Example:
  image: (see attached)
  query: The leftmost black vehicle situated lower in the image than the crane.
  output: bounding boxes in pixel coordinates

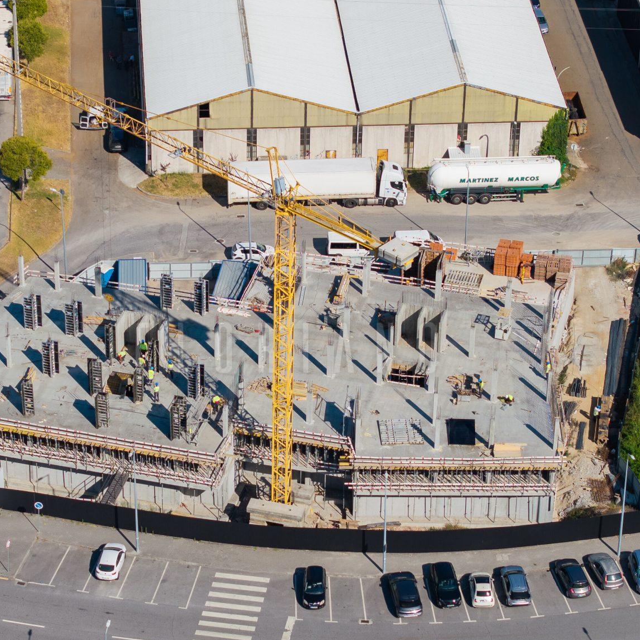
[301,565,328,607]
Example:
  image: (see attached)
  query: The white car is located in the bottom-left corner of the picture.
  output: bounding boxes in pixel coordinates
[96,544,127,583]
